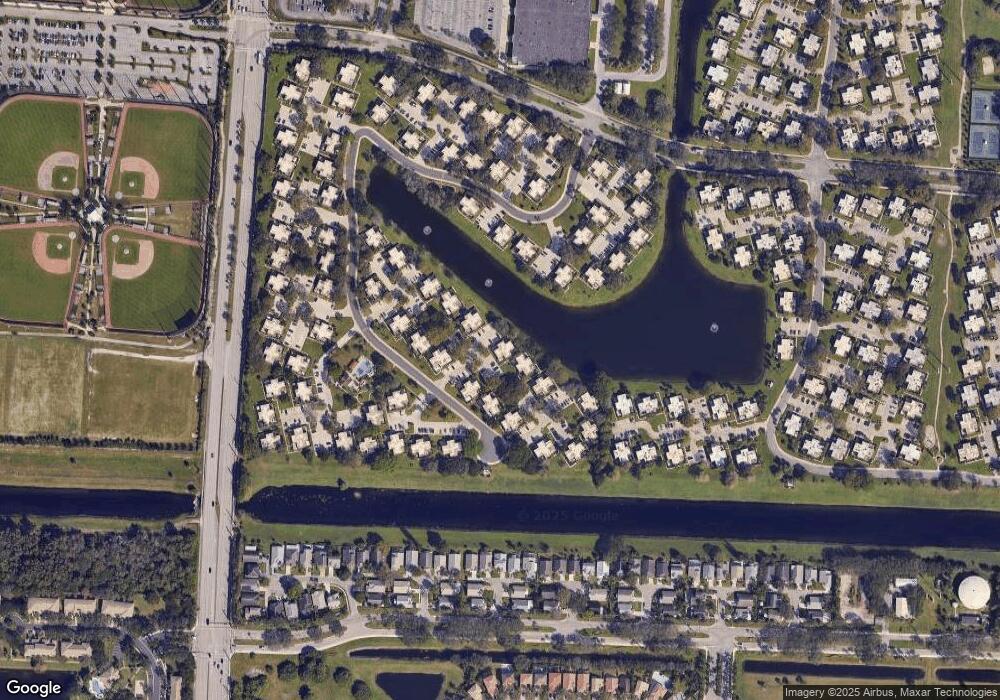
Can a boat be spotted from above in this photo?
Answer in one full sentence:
No, the frame has no boat in it.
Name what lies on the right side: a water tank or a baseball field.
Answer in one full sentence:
The feature located on the right side is a water tank.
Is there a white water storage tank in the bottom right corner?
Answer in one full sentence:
Yes, a white water storage tank is visible in the bottom right corner.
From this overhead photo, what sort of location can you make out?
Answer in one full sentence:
This looks like a residential area.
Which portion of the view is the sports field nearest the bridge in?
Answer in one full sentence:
The sports field nearest the bridge appears toward the left of the photo.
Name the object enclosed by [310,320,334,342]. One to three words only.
house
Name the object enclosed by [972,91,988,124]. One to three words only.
tennis court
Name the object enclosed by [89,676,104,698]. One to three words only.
swimming pool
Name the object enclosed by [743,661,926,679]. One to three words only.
pond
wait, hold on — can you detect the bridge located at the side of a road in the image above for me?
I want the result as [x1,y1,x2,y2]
[195,488,236,516]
